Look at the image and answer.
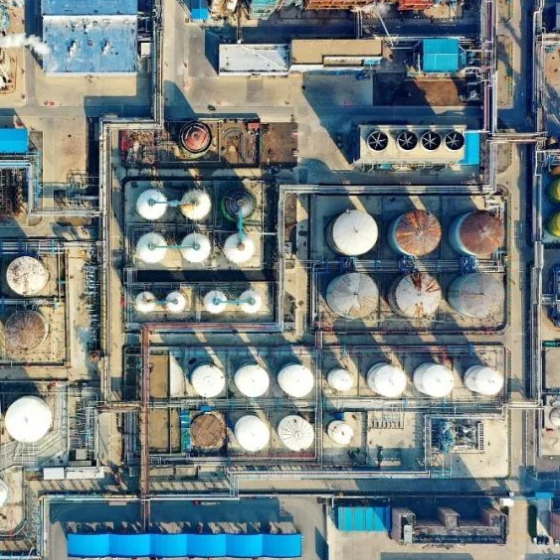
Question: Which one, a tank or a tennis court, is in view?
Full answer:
Of the two, only a tank appears.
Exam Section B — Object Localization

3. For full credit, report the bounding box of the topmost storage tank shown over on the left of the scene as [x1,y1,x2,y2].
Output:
[178,120,213,156]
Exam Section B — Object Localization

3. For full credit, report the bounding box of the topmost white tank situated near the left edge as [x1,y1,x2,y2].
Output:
[6,256,50,298]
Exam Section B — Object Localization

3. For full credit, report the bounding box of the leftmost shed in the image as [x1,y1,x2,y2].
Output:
[0,129,29,154]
